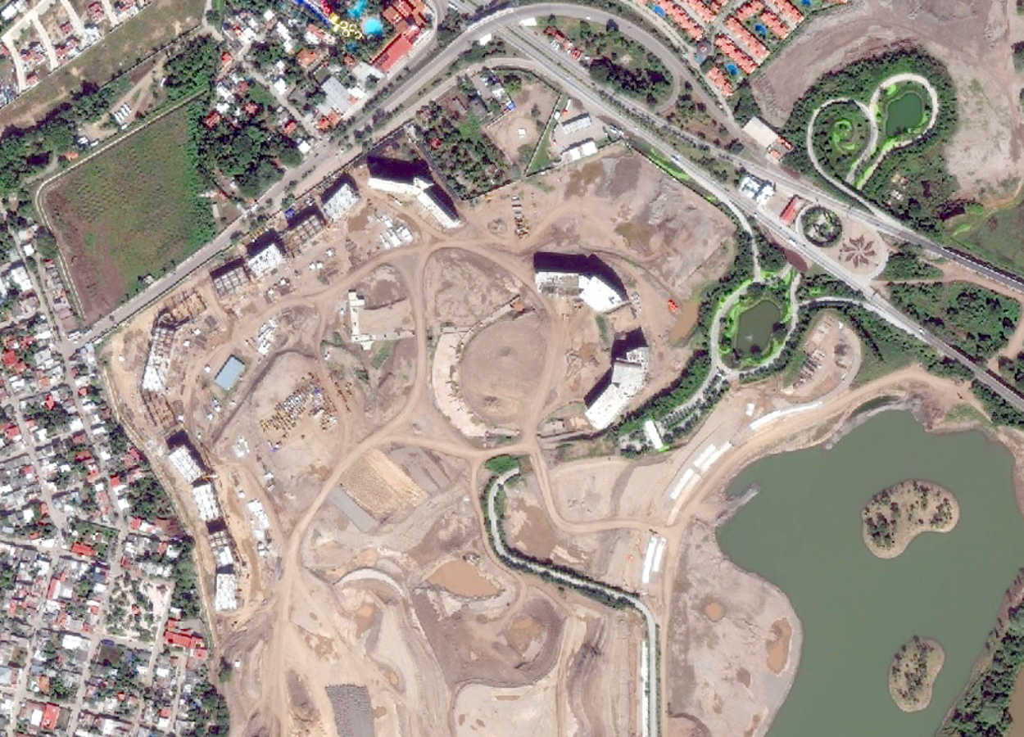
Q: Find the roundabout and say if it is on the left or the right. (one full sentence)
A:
It is on the right.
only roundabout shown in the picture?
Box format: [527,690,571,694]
[797,202,845,250]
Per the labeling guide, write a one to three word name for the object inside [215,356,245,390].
shed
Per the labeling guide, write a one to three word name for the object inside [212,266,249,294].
building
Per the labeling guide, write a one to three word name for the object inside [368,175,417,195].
building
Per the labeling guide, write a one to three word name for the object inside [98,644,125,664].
house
